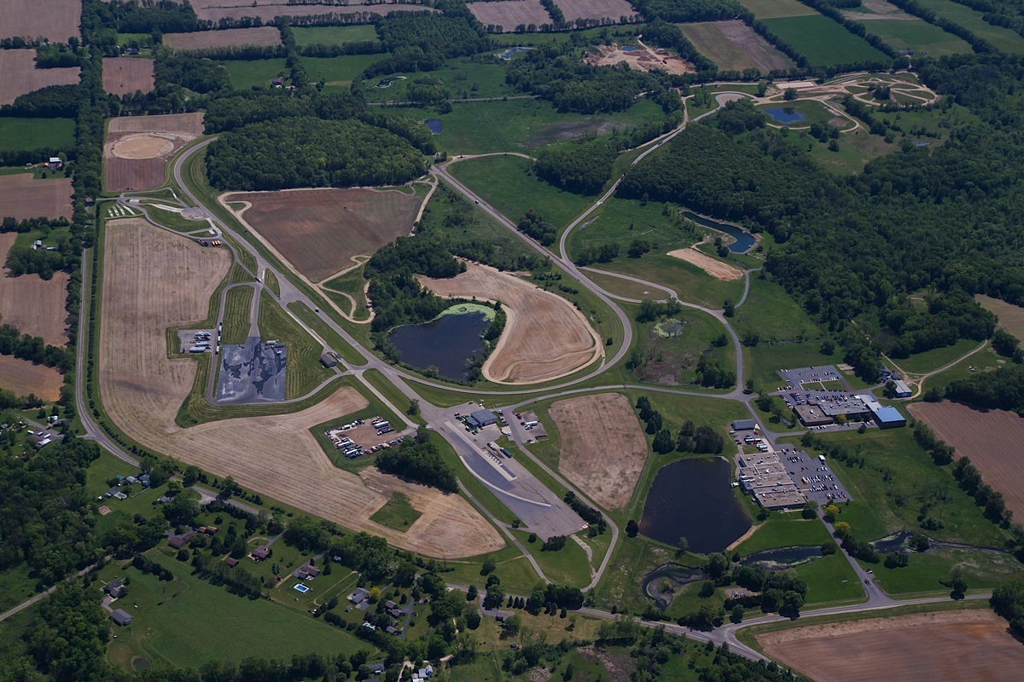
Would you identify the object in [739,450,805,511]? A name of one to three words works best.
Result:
building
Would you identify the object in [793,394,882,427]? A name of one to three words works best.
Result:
building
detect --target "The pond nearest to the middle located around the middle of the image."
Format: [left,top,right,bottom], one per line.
[390,310,489,380]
